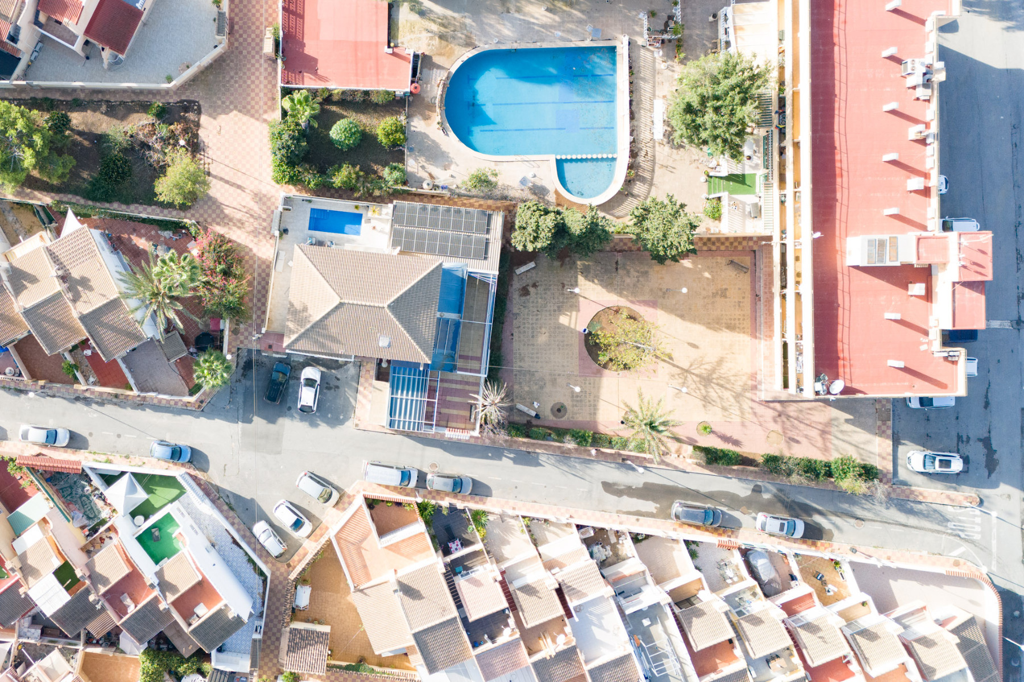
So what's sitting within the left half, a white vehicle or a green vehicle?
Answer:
white vehicle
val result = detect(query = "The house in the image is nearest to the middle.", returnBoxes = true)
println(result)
[282,243,444,370]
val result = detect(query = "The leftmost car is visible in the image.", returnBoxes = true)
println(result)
[13,423,76,450]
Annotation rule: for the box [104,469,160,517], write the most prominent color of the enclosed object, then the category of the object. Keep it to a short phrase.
white gazebo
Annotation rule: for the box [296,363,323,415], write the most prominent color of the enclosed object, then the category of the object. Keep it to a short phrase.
white car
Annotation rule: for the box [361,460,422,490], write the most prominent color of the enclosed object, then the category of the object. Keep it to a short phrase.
white van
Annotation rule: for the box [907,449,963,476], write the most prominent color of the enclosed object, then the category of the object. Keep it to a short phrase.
white car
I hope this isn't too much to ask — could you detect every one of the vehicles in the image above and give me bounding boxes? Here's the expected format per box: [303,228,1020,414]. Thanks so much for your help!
[907,449,963,476]
[669,500,723,529]
[753,511,806,540]
[267,496,316,541]
[967,354,982,374]
[144,438,196,465]
[290,467,344,507]
[937,174,953,196]
[938,210,983,231]
[261,355,294,408]
[248,517,291,562]
[13,423,76,450]
[361,460,422,490]
[906,396,959,412]
[938,329,985,347]
[296,363,323,415]
[424,470,475,498]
